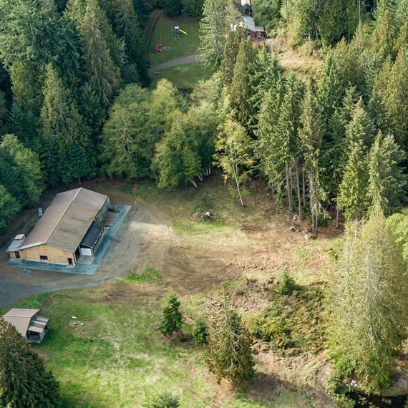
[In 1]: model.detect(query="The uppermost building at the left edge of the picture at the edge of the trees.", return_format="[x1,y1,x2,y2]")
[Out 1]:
[5,186,110,273]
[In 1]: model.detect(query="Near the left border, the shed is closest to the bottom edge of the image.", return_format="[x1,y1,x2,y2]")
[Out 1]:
[2,308,51,342]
